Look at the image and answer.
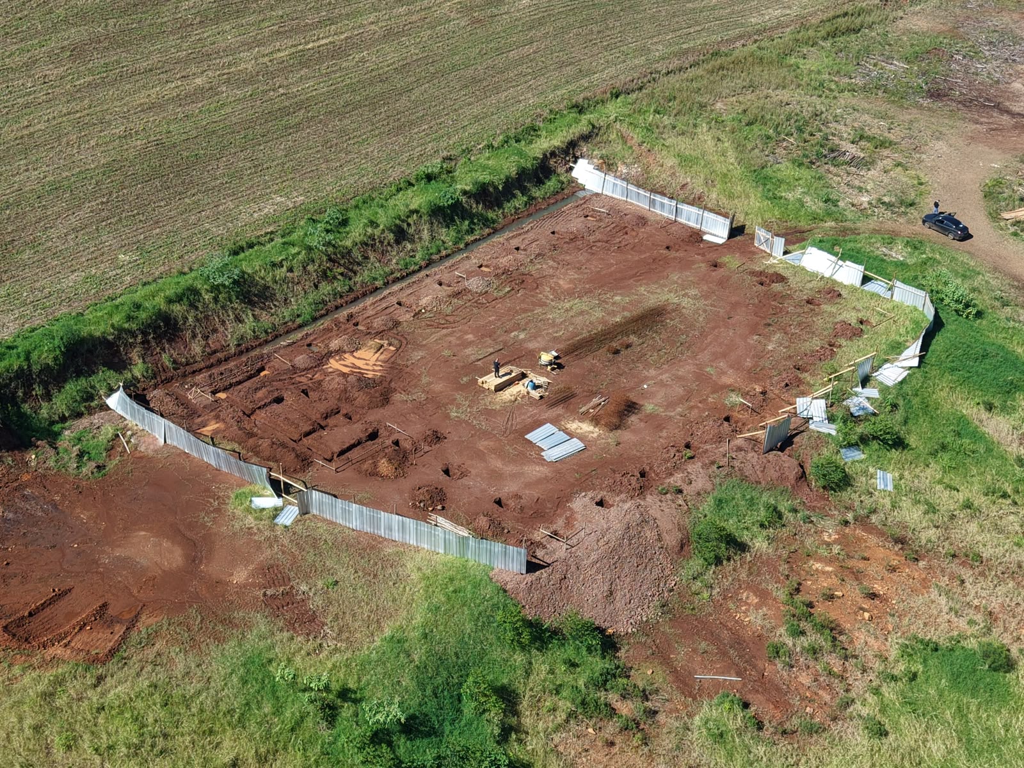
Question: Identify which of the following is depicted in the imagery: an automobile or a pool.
automobile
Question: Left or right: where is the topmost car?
right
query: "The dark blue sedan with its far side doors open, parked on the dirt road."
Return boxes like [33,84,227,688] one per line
[922,207,974,239]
